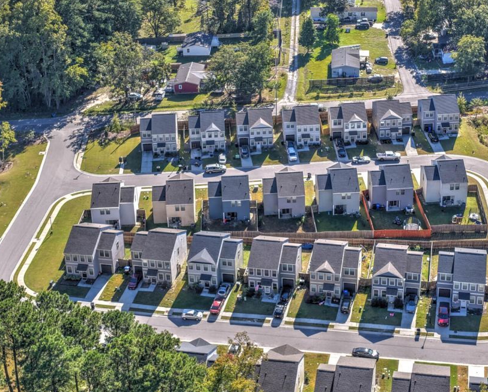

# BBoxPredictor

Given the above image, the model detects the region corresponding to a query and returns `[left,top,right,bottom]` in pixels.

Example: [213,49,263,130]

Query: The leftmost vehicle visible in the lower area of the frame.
[124,267,142,291]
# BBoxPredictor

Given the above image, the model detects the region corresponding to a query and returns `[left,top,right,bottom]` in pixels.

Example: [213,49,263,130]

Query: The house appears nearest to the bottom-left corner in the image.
[59,223,124,279]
